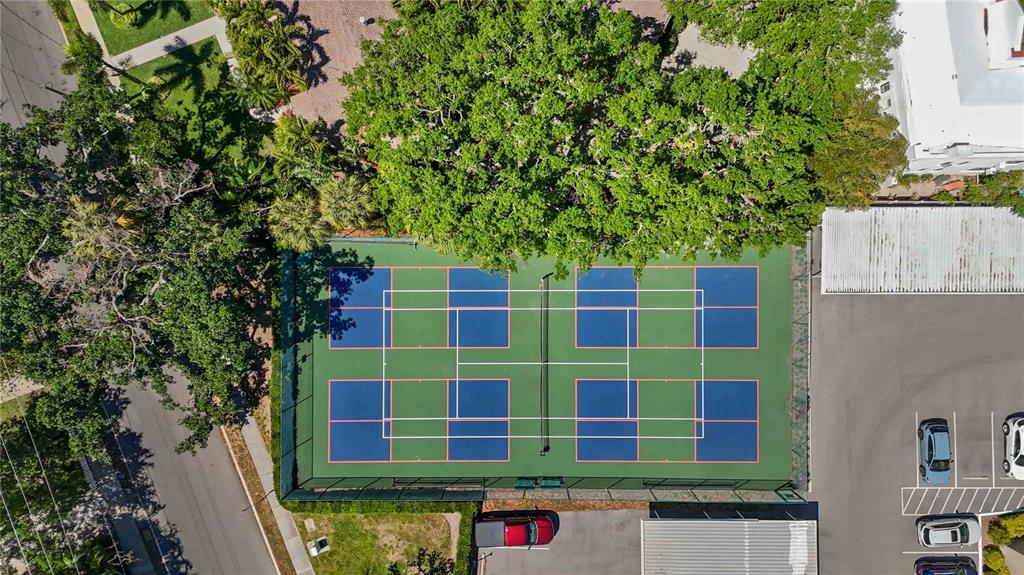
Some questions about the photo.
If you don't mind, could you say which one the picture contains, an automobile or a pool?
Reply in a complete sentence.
The one in the frame is an automobile.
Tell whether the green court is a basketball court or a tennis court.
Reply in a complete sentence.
The green court can be classified as a tennis court.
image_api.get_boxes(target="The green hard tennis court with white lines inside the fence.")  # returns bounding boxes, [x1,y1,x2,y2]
[297,243,789,488]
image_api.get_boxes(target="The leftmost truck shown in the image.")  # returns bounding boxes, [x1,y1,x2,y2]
[476,515,552,551]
